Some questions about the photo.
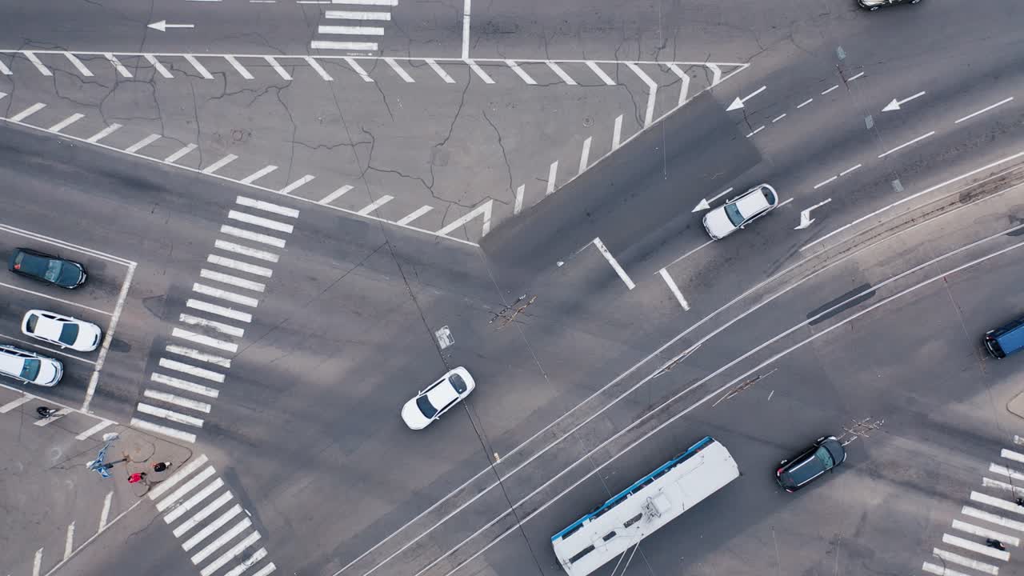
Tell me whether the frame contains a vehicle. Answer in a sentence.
Yes, the image includes a vehicle.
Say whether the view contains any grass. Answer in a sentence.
No, no grass is visible.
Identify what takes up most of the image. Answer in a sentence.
The scene is dominated by paved ground.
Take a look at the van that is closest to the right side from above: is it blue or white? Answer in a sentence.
The van that is closest to the right side is blue.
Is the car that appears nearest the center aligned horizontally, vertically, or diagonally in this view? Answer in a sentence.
In this picture, the car that appears nearest the center lies diagonally.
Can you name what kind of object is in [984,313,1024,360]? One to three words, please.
van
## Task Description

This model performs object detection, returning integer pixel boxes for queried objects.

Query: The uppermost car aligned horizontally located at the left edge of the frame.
[7,247,88,290]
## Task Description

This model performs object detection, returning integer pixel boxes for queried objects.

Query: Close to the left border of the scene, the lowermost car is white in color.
[0,341,64,386]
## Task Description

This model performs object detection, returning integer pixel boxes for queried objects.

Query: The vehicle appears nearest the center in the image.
[402,368,475,429]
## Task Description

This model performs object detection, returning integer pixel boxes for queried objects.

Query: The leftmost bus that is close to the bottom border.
[549,436,743,576]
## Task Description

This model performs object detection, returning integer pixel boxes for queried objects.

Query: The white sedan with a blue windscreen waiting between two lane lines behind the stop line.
[21,309,102,352]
